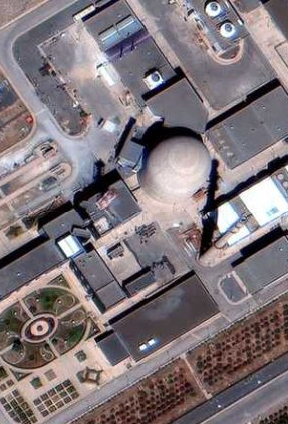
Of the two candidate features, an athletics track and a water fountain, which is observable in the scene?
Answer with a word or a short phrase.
water fountain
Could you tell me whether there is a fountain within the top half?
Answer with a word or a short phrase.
No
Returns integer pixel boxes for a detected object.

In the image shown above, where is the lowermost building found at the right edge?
[227,235,288,300]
